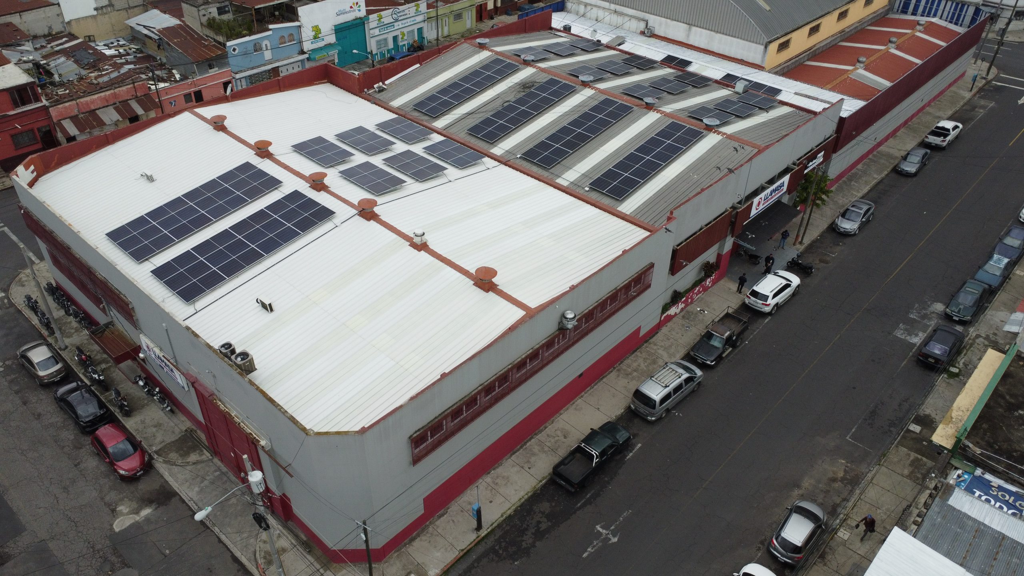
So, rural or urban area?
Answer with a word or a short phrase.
urban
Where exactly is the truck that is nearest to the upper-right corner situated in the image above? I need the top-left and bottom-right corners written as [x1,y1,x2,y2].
[920,121,961,152]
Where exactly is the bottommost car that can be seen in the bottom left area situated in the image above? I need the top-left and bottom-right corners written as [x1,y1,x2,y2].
[88,421,159,487]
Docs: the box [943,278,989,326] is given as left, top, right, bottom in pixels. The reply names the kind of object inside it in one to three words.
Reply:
car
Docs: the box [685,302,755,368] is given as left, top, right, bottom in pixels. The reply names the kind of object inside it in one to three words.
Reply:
truck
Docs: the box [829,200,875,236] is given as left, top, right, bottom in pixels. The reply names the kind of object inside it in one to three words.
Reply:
car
